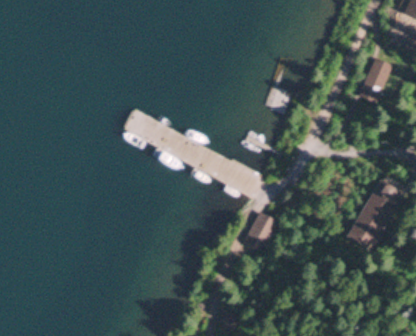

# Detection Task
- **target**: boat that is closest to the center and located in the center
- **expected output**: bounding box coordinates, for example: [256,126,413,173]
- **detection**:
[192,168,212,182]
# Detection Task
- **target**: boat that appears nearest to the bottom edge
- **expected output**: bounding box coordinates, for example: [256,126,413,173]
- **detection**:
[222,184,240,197]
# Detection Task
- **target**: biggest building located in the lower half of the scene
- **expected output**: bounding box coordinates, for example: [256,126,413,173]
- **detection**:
[350,183,400,246]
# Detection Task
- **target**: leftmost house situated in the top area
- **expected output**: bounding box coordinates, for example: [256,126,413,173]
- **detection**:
[366,58,393,92]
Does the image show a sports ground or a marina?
marina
